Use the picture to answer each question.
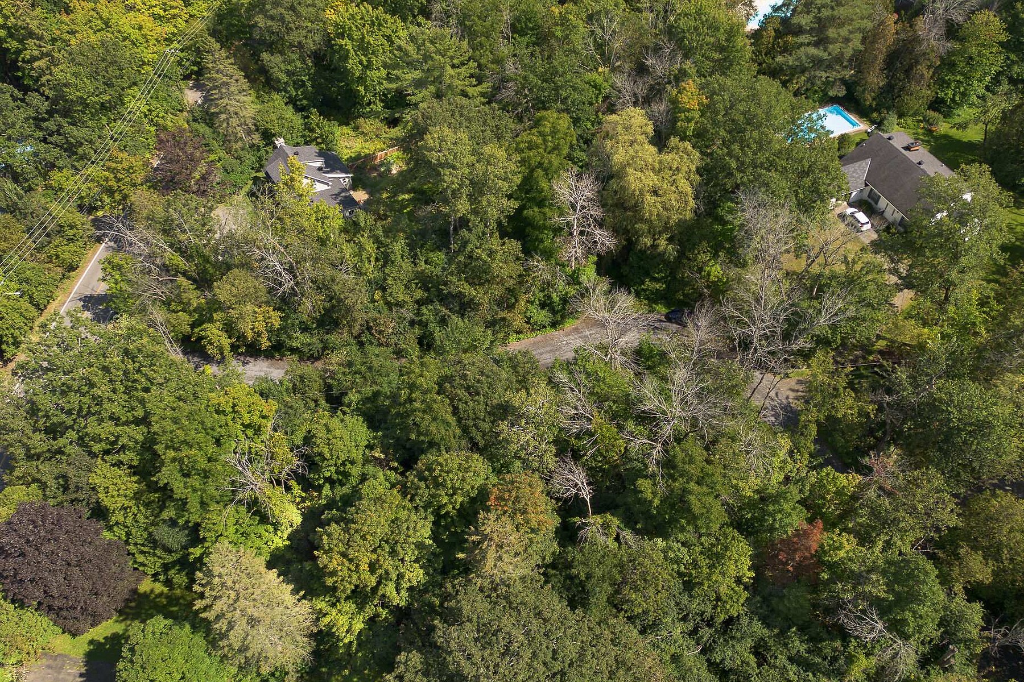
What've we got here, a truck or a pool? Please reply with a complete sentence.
Looking from above, you can make out a pool.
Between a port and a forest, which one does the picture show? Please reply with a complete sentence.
The area seen from above is a forest.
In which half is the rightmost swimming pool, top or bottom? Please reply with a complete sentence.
The rightmost swimming pool sits in the top half of the picture.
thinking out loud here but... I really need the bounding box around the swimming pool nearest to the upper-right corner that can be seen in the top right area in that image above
[816,101,869,142]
